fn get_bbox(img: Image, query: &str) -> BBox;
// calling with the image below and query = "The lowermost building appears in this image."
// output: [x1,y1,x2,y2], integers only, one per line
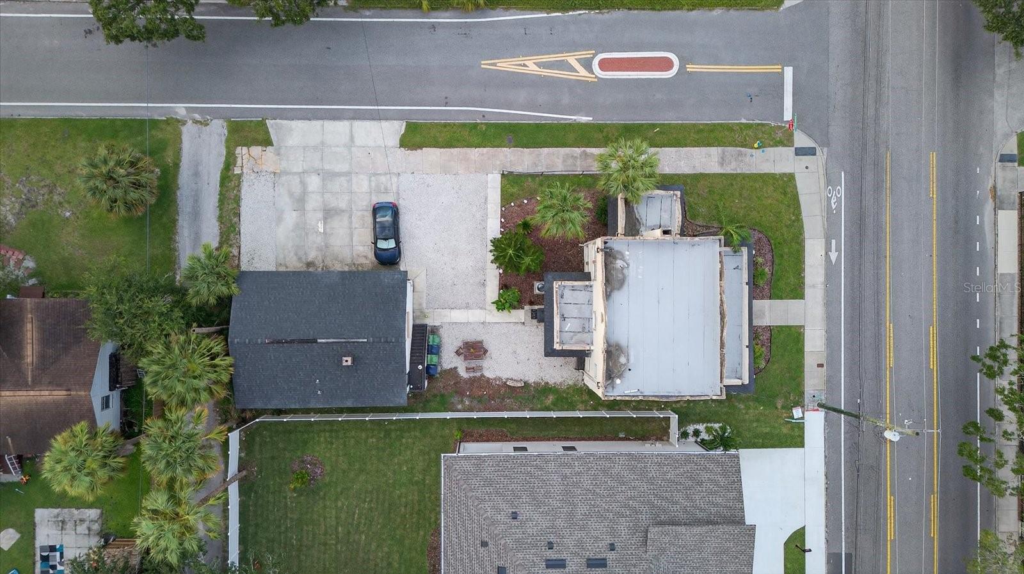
[439,439,755,574]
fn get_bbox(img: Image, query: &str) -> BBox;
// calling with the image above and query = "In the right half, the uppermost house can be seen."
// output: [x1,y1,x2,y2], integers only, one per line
[543,185,752,400]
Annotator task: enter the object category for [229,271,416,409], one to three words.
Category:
shed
